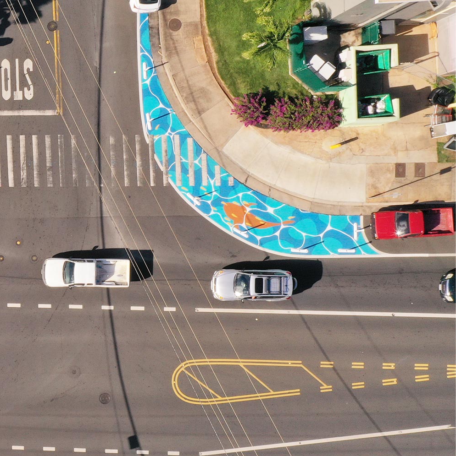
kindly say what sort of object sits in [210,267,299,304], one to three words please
car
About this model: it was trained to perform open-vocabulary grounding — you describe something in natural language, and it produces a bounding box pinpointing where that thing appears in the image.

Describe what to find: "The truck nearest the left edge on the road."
[38,254,130,291]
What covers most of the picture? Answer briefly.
paved ground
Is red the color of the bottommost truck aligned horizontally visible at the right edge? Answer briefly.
Yes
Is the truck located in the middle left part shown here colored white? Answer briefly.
Yes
